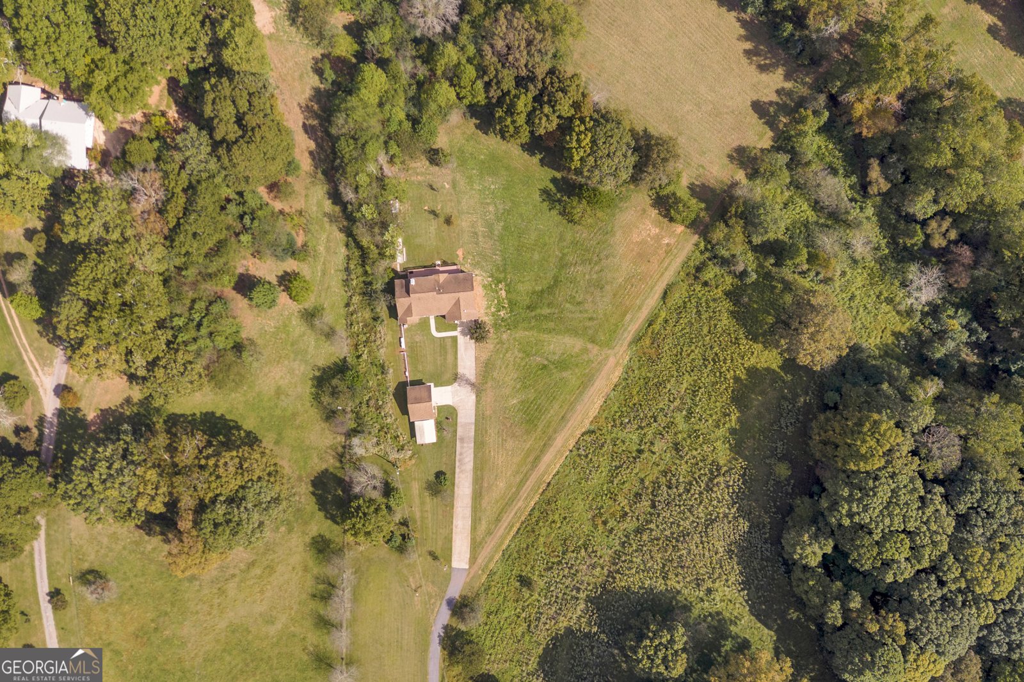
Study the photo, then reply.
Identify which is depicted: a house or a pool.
house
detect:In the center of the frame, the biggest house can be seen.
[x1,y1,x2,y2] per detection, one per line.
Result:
[395,262,478,324]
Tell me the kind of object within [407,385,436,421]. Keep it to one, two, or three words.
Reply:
building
